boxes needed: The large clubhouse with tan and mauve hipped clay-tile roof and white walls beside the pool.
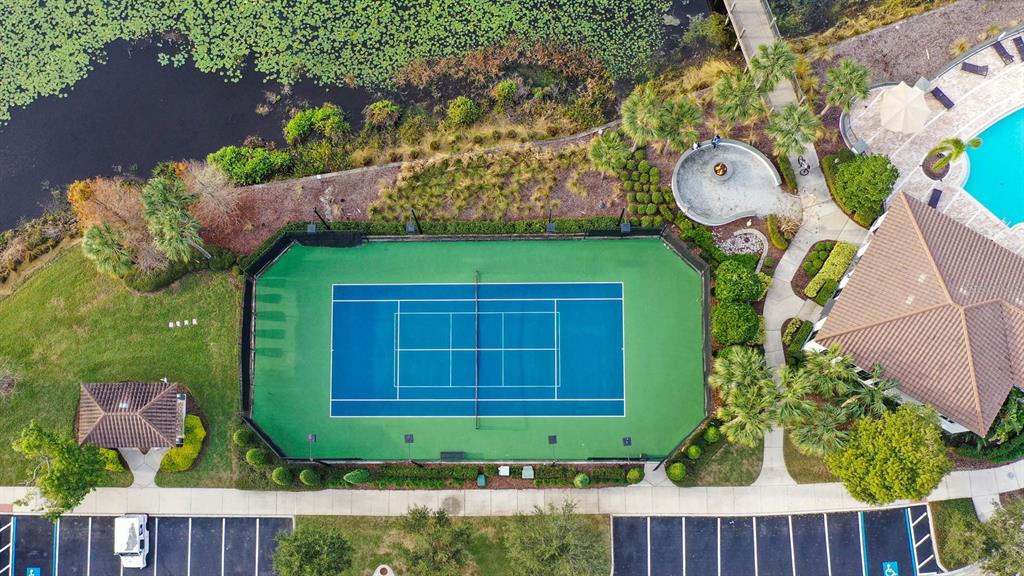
[808,190,1024,437]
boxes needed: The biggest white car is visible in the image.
[115,513,150,569]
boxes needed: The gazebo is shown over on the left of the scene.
[78,383,184,449]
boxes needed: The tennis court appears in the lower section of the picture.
[252,237,707,460]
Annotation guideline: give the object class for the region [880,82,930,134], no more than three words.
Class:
umbrella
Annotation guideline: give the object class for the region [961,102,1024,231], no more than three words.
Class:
swimming pool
